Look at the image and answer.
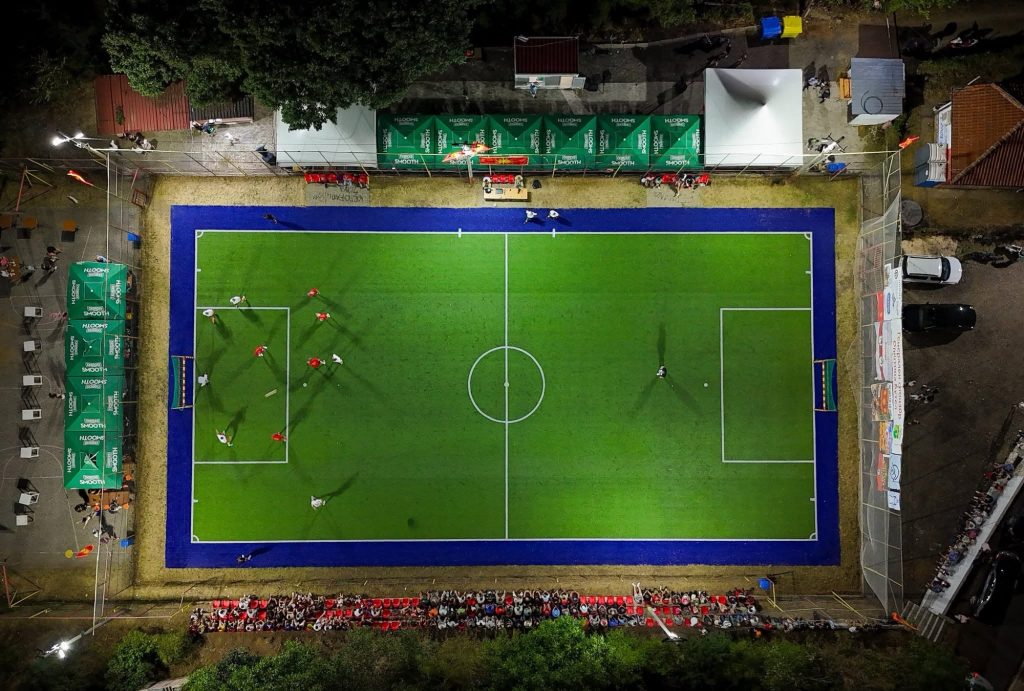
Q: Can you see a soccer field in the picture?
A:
Yes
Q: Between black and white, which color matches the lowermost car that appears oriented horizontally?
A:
black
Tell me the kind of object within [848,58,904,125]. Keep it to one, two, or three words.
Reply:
shed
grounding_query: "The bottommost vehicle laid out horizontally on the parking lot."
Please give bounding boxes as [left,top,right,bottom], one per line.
[898,300,974,334]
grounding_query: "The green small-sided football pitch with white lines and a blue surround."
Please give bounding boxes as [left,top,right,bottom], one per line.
[165,206,841,568]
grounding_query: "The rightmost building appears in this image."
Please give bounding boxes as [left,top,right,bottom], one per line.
[931,75,1024,196]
